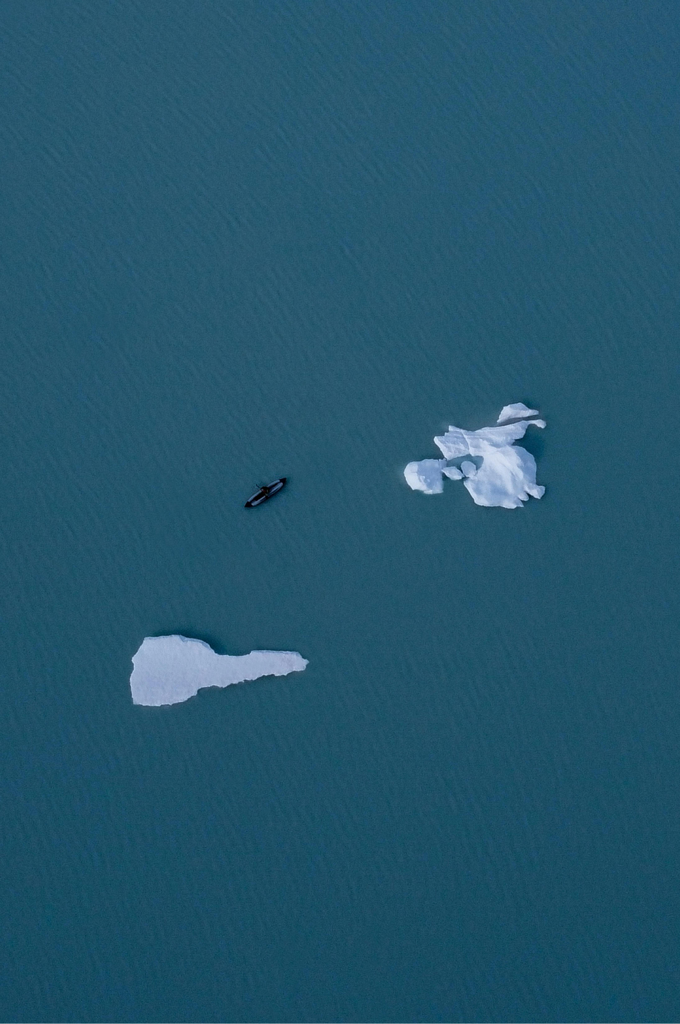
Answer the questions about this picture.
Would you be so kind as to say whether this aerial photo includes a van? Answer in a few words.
No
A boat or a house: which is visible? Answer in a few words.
boat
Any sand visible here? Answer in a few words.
No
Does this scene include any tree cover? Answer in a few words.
No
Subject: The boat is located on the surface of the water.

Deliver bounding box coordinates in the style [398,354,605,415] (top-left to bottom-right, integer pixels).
[244,478,286,507]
